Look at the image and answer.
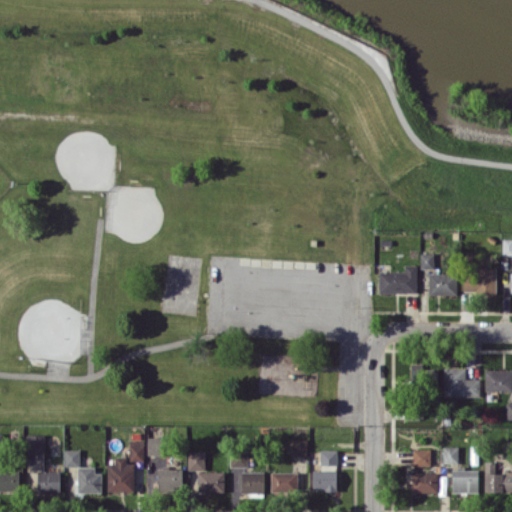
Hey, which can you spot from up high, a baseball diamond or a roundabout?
baseball diamond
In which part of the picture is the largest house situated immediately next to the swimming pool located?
bottom left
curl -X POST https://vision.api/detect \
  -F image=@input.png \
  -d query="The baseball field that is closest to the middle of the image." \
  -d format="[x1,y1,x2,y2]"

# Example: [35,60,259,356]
[105,186,164,243]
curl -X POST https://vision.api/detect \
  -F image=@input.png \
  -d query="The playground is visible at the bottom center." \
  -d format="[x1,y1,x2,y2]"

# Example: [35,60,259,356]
[258,356,318,397]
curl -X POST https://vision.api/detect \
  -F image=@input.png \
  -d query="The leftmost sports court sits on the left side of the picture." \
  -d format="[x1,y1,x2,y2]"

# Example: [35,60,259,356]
[162,256,202,317]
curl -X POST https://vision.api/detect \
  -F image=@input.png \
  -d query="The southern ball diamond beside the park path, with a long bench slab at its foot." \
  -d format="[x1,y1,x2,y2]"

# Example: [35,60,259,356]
[18,299,80,363]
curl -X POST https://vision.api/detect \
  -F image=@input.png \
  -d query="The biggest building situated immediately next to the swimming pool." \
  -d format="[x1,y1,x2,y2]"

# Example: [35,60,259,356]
[107,460,134,495]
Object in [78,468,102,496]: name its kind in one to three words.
house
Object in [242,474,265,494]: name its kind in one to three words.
house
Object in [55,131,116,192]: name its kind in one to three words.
baseball field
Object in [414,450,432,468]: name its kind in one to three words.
building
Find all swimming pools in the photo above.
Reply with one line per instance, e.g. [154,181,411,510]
[108,438,124,456]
